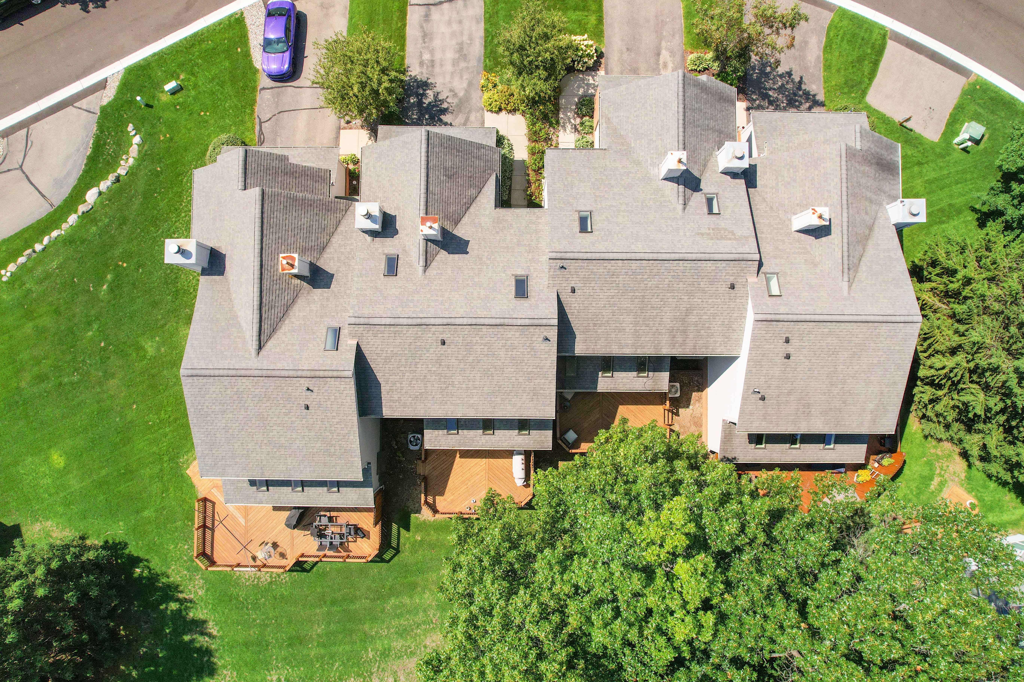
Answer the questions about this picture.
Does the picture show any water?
No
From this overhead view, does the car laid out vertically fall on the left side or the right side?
left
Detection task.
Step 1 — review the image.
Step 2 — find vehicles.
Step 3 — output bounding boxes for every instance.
[0,0,42,21]
[259,0,301,83]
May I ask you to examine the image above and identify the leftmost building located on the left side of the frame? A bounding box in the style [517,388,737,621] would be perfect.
[164,144,385,509]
